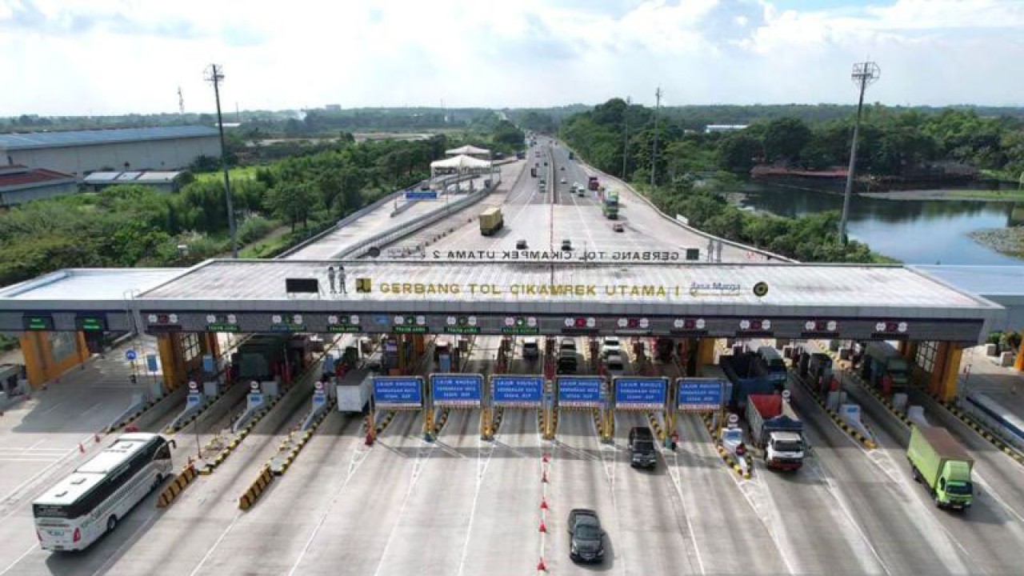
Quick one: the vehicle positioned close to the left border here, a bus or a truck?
bus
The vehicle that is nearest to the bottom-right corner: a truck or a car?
truck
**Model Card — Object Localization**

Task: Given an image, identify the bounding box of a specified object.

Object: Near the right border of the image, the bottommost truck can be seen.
[889,415,983,503]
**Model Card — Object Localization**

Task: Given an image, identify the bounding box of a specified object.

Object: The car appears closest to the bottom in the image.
[567,498,606,553]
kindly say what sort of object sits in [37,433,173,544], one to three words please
bus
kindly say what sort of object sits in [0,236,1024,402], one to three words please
toll station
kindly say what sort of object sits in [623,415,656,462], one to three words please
car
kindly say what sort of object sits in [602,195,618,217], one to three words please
vehicle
